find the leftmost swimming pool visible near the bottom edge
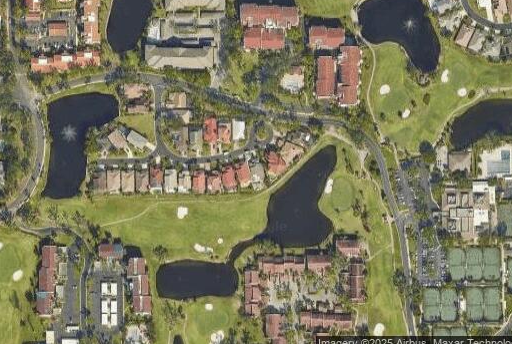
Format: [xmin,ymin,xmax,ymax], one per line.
[127,325,145,344]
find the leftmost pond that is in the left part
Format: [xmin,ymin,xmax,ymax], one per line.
[43,94,118,197]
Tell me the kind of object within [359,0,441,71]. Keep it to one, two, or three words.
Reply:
pond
